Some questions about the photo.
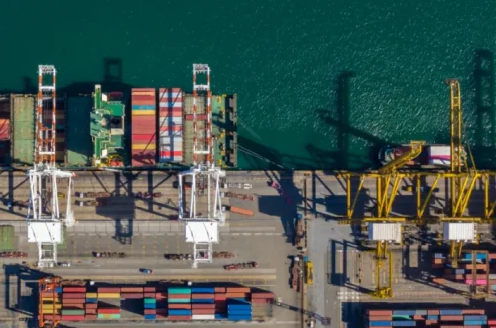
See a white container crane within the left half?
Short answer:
Yes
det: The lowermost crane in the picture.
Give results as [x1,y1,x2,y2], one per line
[36,277,64,327]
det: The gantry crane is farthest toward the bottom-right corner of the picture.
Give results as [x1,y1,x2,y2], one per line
[453,250,490,301]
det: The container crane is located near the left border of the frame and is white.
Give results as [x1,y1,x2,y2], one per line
[23,64,85,269]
